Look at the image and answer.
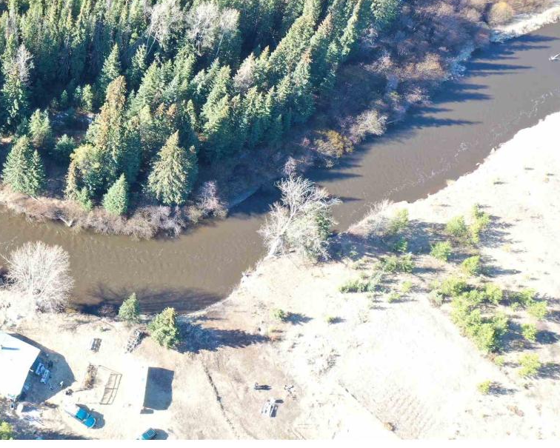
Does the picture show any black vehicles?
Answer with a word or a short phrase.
No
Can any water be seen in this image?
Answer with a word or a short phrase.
Yes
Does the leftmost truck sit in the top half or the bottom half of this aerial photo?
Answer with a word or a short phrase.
bottom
